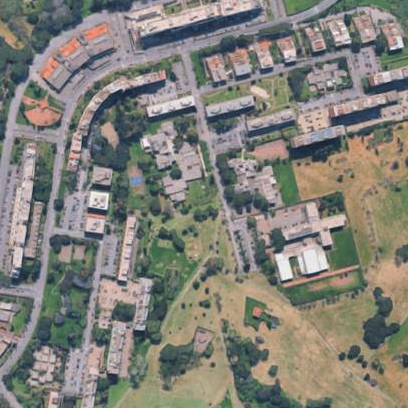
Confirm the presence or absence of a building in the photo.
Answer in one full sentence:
Yes, a building is visible in the scene.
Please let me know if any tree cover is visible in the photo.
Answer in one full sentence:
Yes, tree cover shows up in the scene.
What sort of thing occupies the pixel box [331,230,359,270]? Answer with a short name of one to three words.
sports field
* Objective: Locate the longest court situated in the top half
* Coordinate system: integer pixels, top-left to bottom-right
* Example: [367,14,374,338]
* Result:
[255,141,288,162]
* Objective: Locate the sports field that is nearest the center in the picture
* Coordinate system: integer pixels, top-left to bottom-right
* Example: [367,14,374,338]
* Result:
[273,161,300,207]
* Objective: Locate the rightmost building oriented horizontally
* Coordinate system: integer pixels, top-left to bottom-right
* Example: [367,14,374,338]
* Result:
[365,65,408,87]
